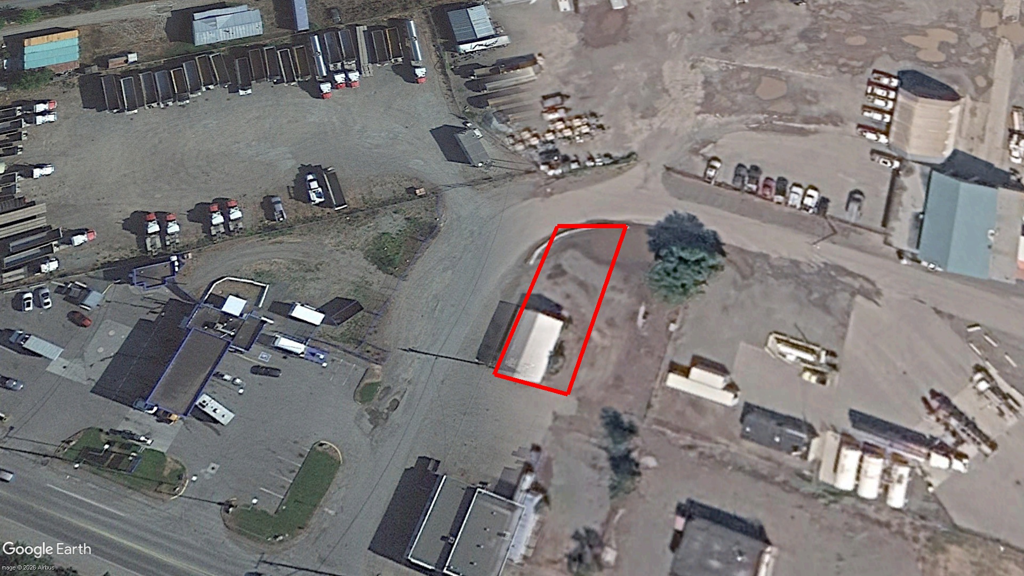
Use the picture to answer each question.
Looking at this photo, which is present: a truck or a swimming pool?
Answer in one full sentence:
Looking from above, you can make out a truck.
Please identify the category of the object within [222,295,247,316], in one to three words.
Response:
building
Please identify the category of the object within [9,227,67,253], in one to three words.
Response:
trailer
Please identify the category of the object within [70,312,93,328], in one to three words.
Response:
car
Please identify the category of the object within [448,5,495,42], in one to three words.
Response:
shed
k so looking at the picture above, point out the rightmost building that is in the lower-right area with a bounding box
[740,411,812,455]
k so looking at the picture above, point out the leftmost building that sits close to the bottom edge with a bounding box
[409,475,477,570]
